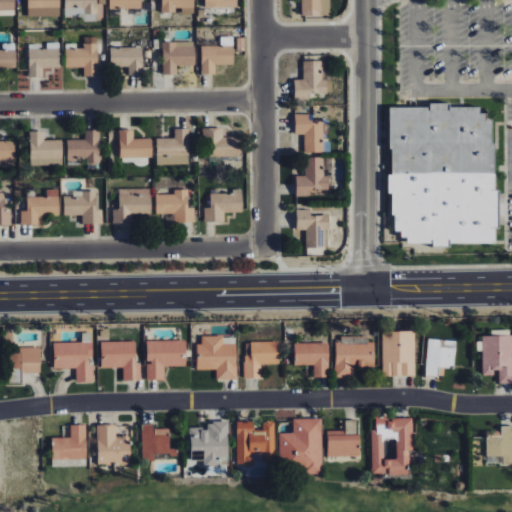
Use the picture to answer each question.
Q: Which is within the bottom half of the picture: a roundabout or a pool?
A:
pool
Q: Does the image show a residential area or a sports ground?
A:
residential area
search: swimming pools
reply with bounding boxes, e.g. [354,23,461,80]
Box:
[0,32,14,43]
[385,441,396,460]
[13,330,42,347]
[278,422,293,433]
[150,459,180,476]
[146,328,182,340]
[128,12,150,26]
[164,28,194,42]
[52,328,93,343]
[194,324,236,344]
[60,178,86,195]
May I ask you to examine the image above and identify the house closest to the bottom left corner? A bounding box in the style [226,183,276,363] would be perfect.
[52,425,87,468]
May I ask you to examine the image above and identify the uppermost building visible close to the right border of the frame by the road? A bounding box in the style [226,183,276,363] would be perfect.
[388,102,500,247]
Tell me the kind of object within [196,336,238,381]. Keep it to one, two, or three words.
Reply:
house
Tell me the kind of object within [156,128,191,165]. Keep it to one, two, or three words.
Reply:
house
